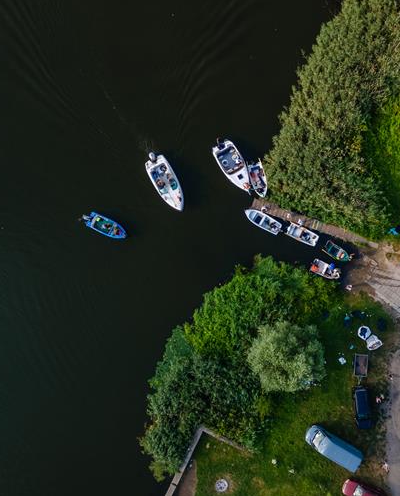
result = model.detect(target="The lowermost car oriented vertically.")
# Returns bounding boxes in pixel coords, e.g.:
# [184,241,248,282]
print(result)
[351,384,374,429]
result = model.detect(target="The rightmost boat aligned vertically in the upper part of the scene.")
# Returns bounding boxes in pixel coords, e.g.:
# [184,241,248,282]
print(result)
[245,160,266,197]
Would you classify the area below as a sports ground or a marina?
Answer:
marina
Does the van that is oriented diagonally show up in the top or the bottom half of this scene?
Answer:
bottom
